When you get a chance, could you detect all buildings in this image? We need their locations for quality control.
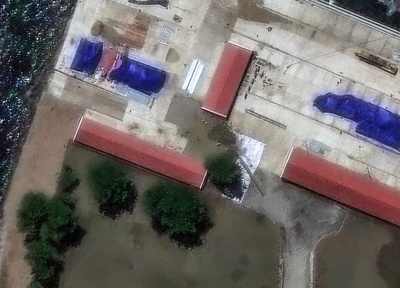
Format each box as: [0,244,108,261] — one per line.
[281,147,400,226]
[202,42,253,118]
[75,117,206,188]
